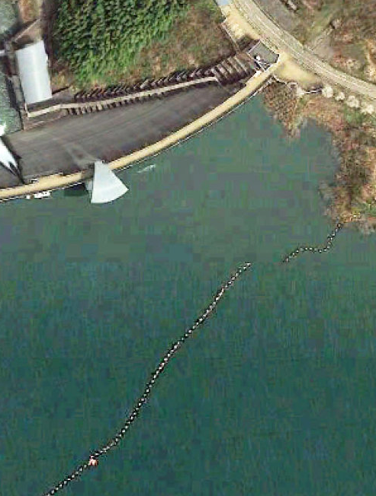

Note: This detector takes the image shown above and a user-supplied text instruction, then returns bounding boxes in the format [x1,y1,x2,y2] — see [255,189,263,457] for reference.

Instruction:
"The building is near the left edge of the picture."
[15,23,72,116]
